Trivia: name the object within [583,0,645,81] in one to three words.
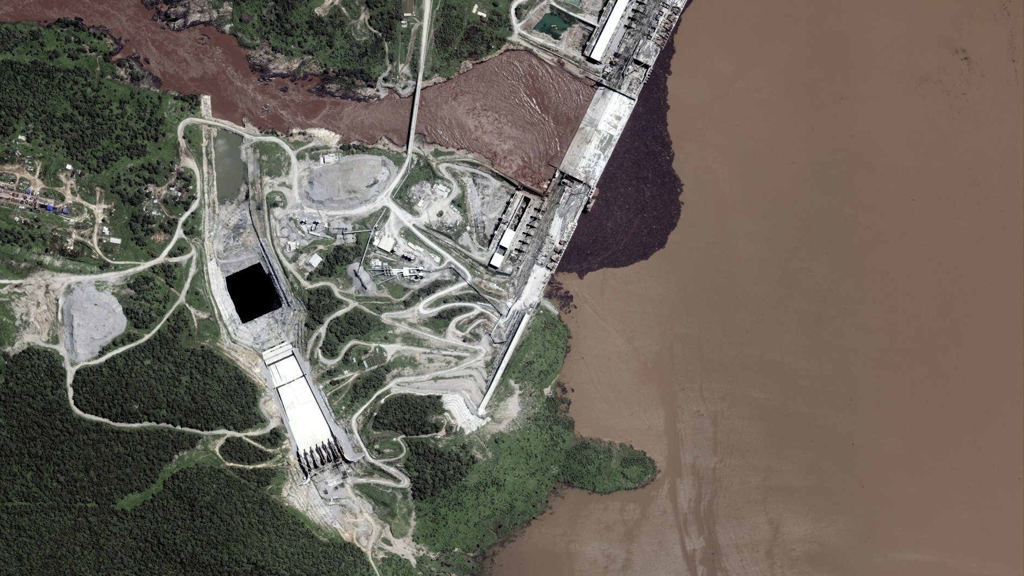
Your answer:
building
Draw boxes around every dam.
[475,0,689,415]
